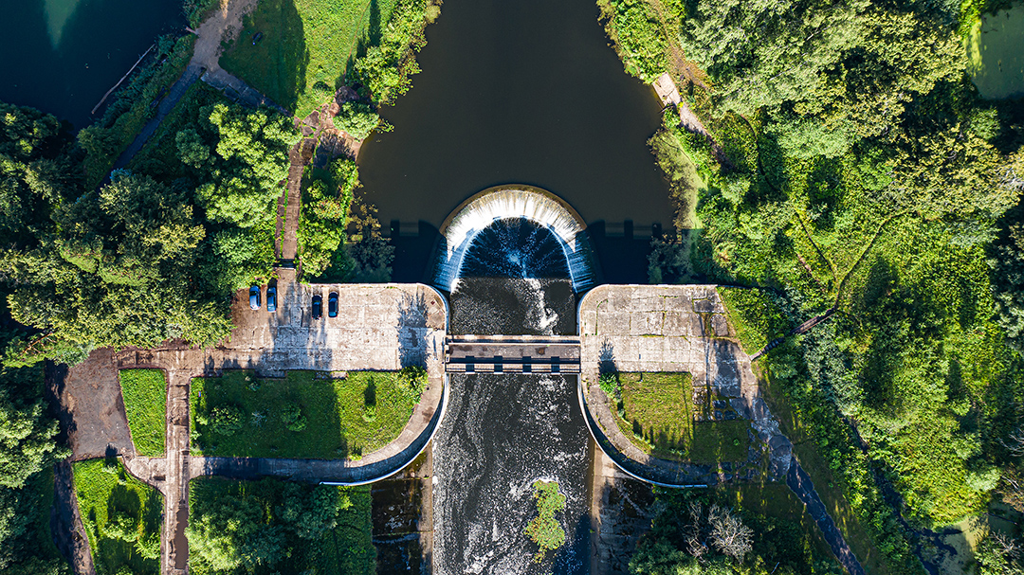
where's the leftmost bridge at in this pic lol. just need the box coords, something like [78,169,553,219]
[447,335,580,374]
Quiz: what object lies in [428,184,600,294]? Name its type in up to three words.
dam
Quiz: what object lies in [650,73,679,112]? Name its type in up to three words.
pier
